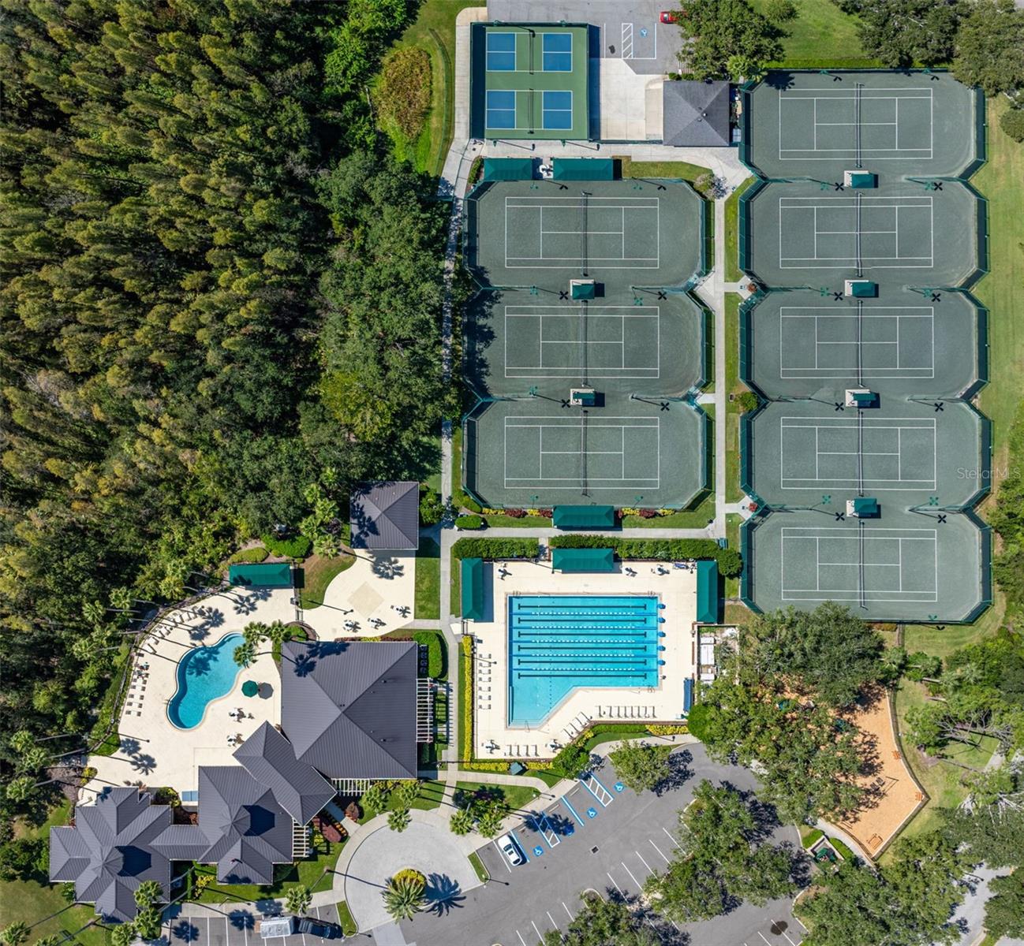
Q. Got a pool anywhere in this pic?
Yes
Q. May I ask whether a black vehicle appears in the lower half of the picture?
Yes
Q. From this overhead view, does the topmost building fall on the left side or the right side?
right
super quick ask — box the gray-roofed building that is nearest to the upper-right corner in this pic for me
[664,80,729,151]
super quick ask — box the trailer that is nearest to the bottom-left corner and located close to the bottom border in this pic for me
[256,919,298,944]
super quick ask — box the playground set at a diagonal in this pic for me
[806,817,873,876]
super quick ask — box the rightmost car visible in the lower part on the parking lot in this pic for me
[501,836,522,869]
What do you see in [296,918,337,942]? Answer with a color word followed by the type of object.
black truck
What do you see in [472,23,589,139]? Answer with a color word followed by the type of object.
green sports court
